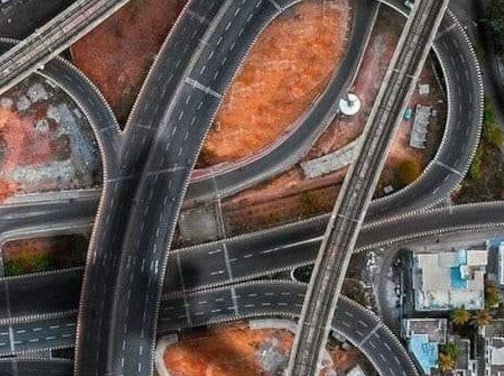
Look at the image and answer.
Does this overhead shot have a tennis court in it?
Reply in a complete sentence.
No, I can see no tennis court in this picture.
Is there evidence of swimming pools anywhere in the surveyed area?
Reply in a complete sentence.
No, I can see no swimming pool in this picture.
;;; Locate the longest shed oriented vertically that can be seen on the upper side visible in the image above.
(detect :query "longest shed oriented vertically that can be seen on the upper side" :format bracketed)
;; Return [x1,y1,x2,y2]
[408,105,433,150]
